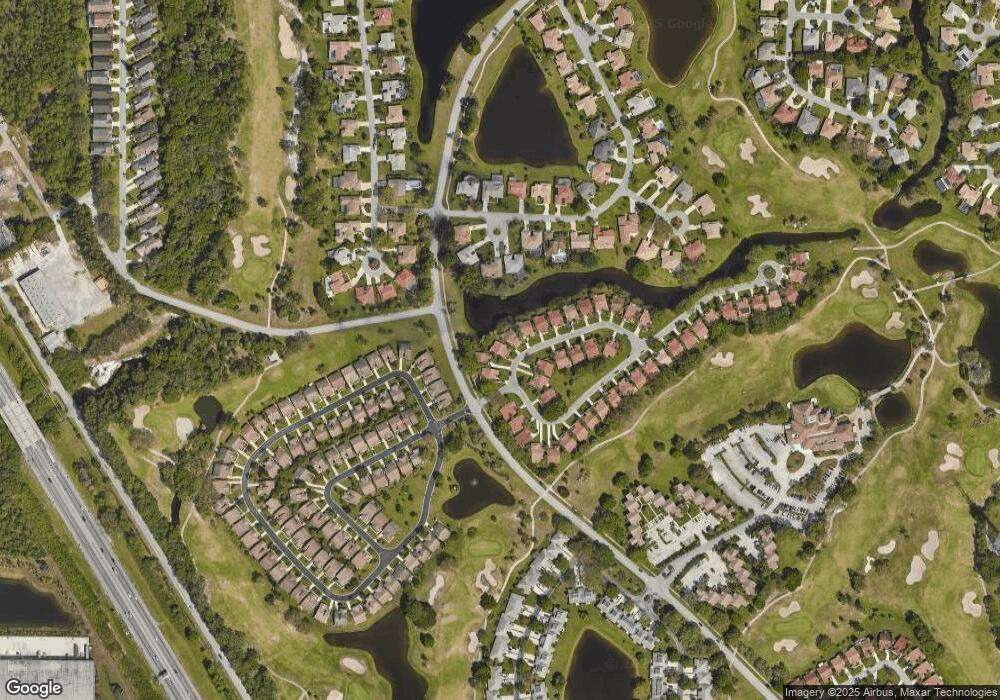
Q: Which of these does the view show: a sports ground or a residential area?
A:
residential area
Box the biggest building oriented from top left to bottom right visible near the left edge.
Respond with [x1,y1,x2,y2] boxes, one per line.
[18,268,71,334]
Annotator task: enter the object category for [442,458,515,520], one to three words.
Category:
pond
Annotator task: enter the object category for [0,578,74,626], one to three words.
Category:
pond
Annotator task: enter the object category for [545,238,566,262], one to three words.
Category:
house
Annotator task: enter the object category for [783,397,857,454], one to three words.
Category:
building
